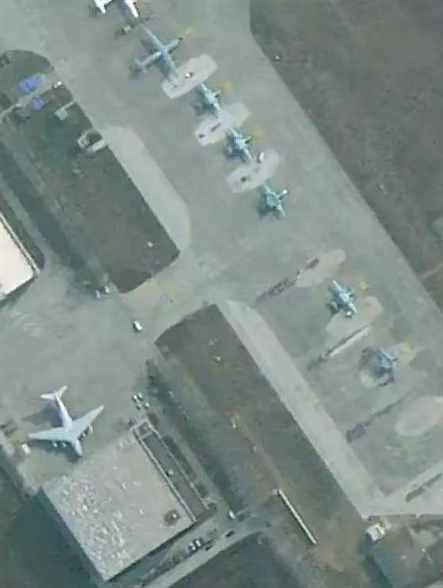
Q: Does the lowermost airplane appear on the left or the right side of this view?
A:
left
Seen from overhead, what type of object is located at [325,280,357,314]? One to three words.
airplane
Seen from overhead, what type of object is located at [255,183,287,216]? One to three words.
airplane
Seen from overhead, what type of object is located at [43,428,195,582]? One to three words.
hangar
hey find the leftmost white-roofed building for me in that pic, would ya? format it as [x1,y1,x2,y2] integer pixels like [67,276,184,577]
[0,214,37,295]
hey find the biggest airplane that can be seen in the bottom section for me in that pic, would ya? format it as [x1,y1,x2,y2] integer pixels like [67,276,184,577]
[28,380,105,457]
